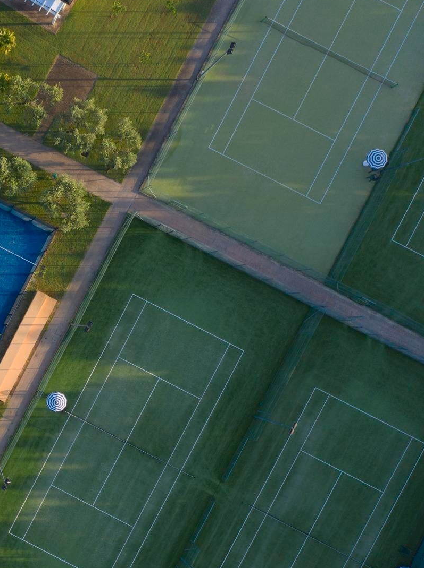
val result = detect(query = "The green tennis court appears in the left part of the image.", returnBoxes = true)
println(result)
[0,215,307,568]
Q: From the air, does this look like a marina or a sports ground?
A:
sports ground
